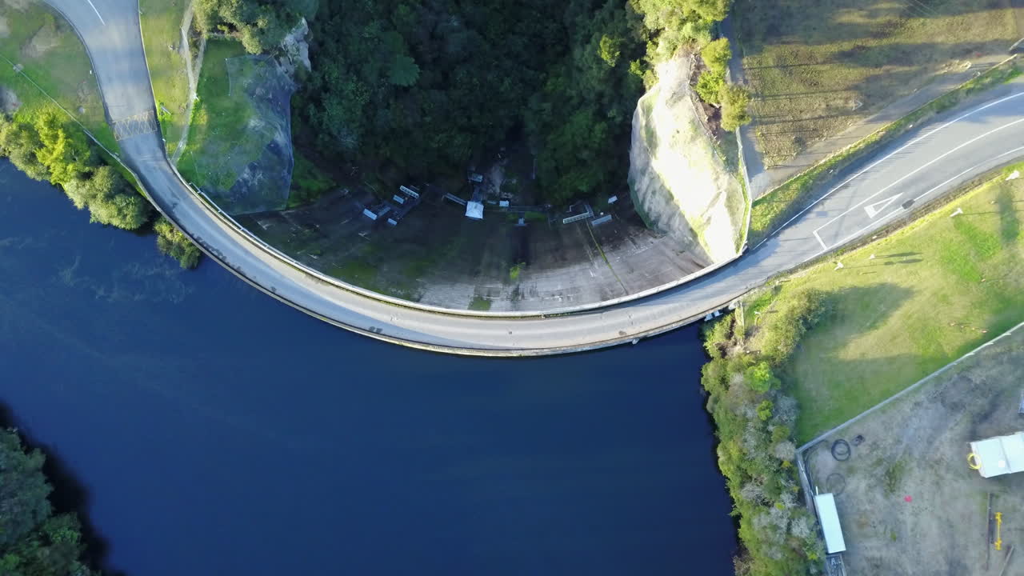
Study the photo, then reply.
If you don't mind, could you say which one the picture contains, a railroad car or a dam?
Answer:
dam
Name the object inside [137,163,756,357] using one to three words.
dam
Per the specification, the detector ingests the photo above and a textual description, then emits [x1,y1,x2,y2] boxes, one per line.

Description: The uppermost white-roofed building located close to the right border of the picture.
[965,430,1024,477]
